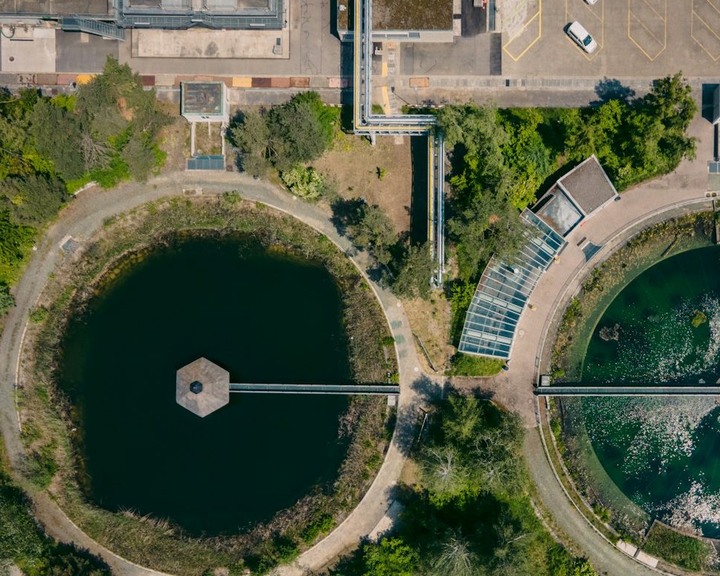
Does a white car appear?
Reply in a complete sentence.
Yes, the photo shows a white car.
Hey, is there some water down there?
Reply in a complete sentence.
Yes, water shows up in the scene.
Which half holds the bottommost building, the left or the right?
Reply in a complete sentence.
The bottommost building sits on the left side.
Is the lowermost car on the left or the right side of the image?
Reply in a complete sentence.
It is on the right.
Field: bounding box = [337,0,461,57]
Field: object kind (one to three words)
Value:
building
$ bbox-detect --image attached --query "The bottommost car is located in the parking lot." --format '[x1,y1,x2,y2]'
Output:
[567,17,599,52]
